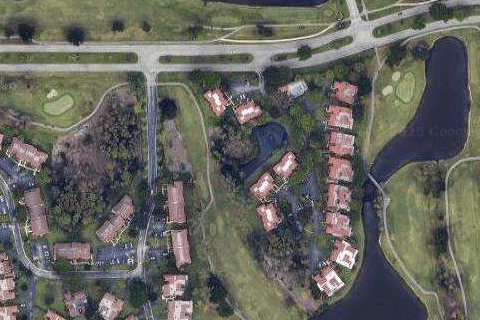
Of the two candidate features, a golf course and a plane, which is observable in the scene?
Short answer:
golf course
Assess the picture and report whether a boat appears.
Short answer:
No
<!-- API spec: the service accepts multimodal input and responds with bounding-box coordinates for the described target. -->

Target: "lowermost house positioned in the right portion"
[312,264,346,298]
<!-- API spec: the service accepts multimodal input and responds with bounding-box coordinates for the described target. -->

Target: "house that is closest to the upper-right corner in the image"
[332,79,359,103]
